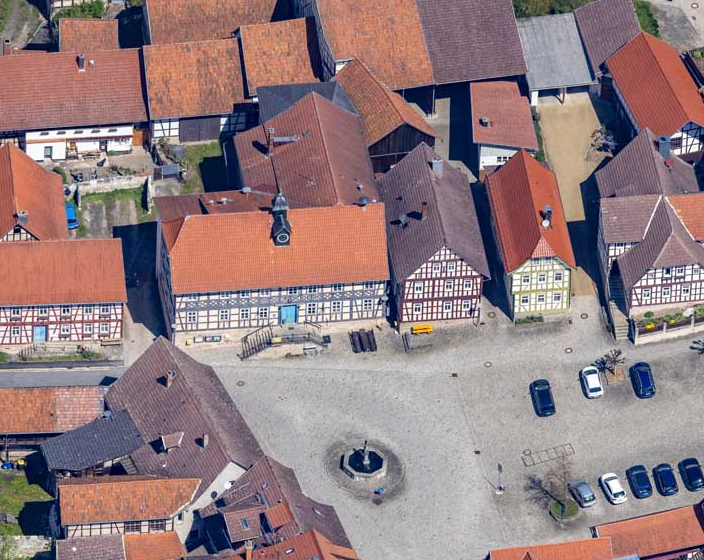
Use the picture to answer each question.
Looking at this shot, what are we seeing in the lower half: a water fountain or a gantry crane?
water fountain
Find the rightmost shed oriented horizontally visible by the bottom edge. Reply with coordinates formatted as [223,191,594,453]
[586,502,704,560]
